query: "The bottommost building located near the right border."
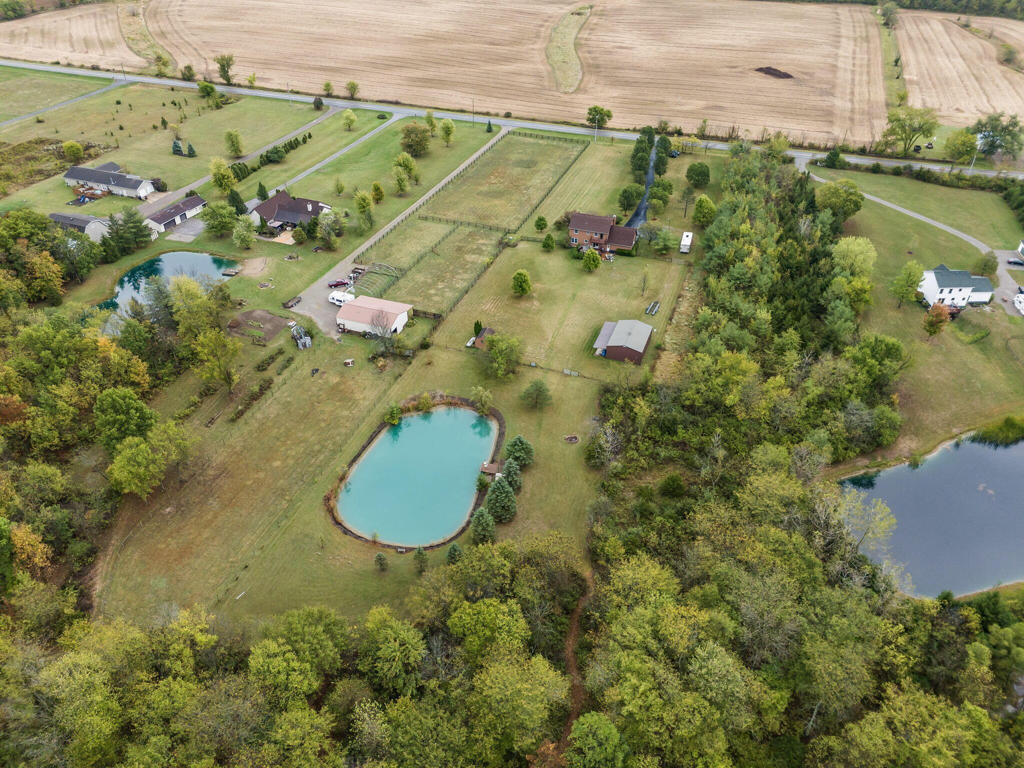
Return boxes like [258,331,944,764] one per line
[919,260,994,306]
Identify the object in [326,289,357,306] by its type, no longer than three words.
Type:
vehicle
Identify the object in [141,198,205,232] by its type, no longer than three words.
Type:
building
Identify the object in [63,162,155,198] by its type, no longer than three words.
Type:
house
